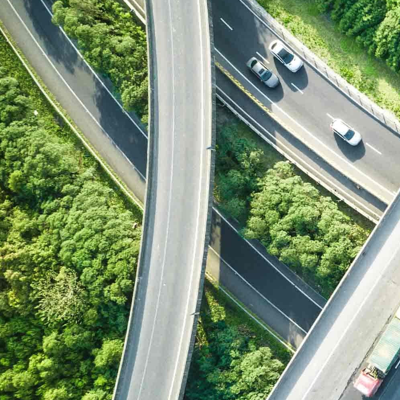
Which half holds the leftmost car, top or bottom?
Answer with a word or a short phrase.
top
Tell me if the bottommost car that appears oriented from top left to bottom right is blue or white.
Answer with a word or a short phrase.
white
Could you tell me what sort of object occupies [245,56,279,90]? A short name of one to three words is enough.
car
